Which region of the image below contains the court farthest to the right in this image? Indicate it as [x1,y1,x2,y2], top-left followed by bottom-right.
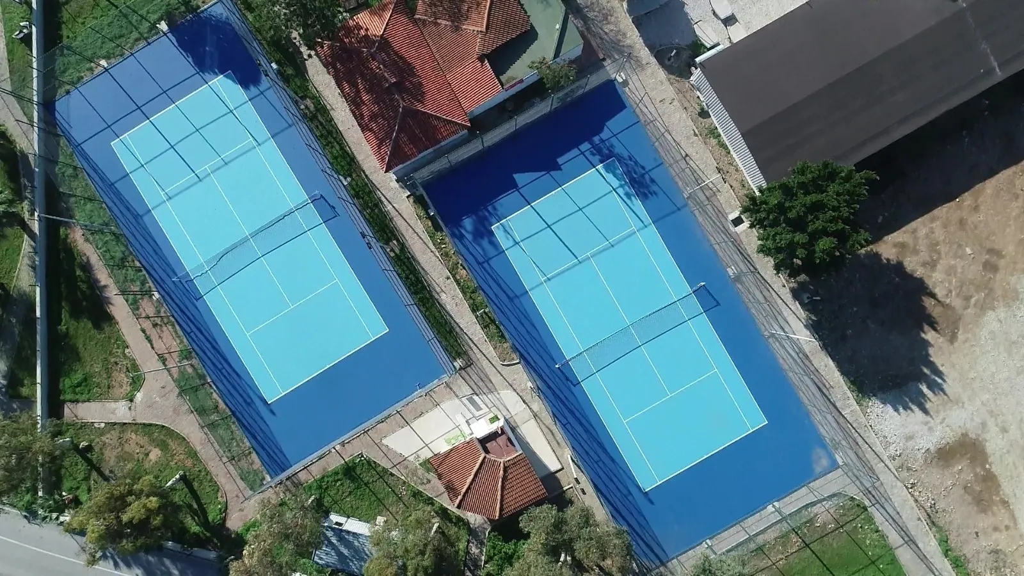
[420,82,840,569]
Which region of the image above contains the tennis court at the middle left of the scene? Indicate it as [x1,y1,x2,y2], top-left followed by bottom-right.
[54,0,454,478]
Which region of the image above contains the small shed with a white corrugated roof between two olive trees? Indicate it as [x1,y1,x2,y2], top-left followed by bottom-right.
[314,512,372,576]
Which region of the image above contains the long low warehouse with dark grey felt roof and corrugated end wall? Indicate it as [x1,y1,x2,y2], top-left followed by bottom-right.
[690,0,1024,190]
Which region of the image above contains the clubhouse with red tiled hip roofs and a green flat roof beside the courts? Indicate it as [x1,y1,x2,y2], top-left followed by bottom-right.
[315,0,583,177]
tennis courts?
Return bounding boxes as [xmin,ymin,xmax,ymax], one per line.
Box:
[420,82,840,569]
[54,0,454,478]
